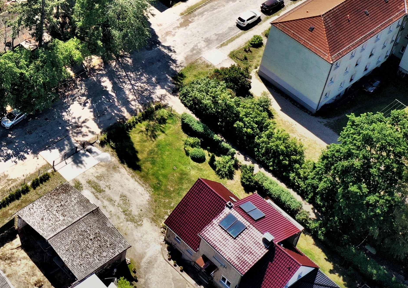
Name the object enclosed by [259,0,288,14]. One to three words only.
vehicle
